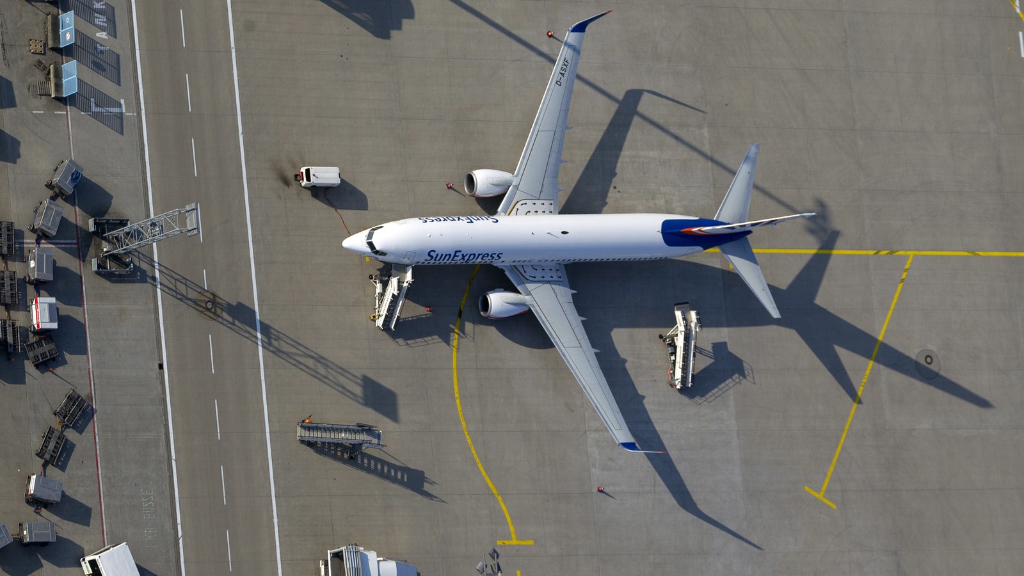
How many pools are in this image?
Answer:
zero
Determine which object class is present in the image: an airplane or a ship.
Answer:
airplane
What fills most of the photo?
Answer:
paved ground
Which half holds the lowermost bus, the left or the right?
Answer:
left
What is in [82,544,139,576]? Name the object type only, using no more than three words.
bus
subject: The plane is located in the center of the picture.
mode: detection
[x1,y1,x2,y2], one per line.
[342,11,814,454]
